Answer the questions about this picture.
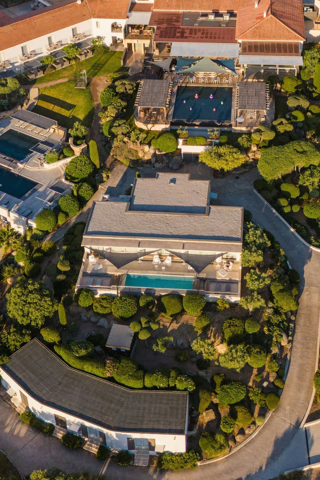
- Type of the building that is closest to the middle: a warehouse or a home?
home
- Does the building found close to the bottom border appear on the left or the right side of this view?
left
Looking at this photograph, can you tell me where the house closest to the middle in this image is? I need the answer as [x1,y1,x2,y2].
[75,172,244,305]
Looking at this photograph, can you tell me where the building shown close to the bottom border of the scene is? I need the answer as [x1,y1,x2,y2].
[0,337,189,457]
